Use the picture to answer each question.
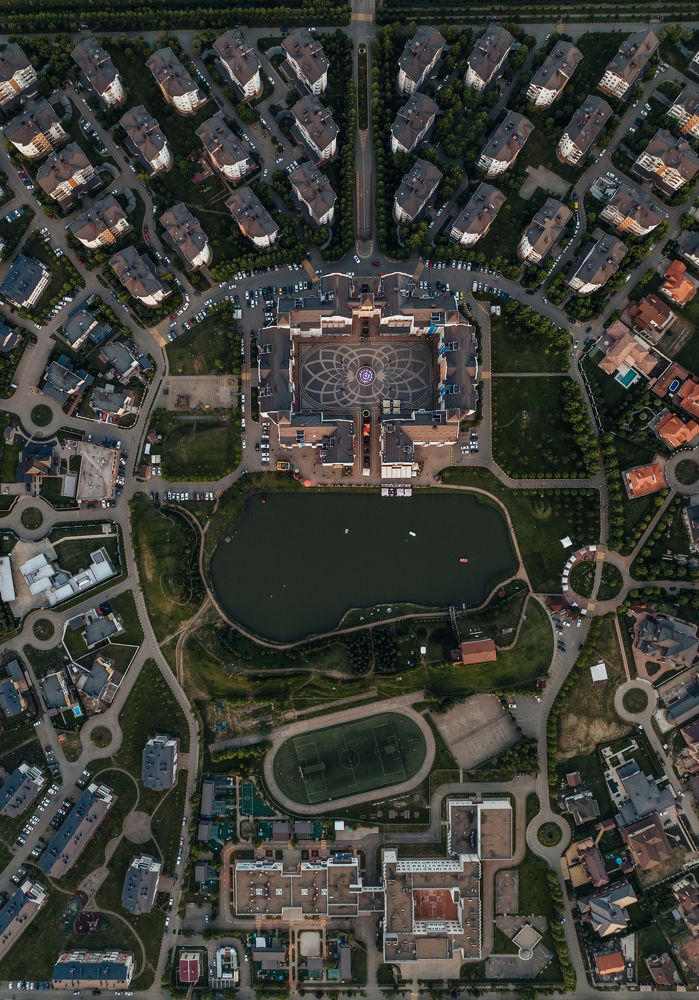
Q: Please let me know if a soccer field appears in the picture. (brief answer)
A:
Yes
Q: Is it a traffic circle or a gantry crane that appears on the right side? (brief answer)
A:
traffic circle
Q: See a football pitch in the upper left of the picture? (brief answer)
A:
No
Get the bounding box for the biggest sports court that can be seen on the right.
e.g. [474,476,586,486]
[431,693,523,770]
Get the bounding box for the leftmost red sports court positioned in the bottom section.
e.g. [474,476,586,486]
[414,889,460,923]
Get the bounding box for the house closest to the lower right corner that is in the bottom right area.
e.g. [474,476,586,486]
[645,948,679,989]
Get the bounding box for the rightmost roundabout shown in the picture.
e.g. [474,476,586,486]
[666,449,699,494]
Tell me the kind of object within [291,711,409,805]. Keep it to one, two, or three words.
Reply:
soccer field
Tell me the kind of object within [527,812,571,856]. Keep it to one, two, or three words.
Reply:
roundabout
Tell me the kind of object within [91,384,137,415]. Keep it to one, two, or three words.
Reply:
house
